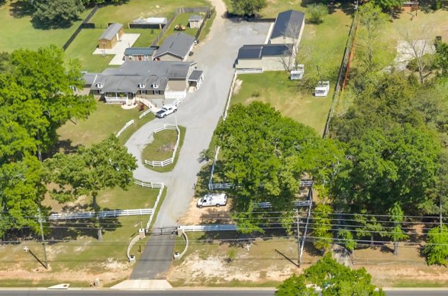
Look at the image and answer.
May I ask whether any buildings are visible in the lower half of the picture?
No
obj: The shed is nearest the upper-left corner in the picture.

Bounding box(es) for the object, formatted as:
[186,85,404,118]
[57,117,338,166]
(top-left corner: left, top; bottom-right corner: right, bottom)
[97,23,123,49]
